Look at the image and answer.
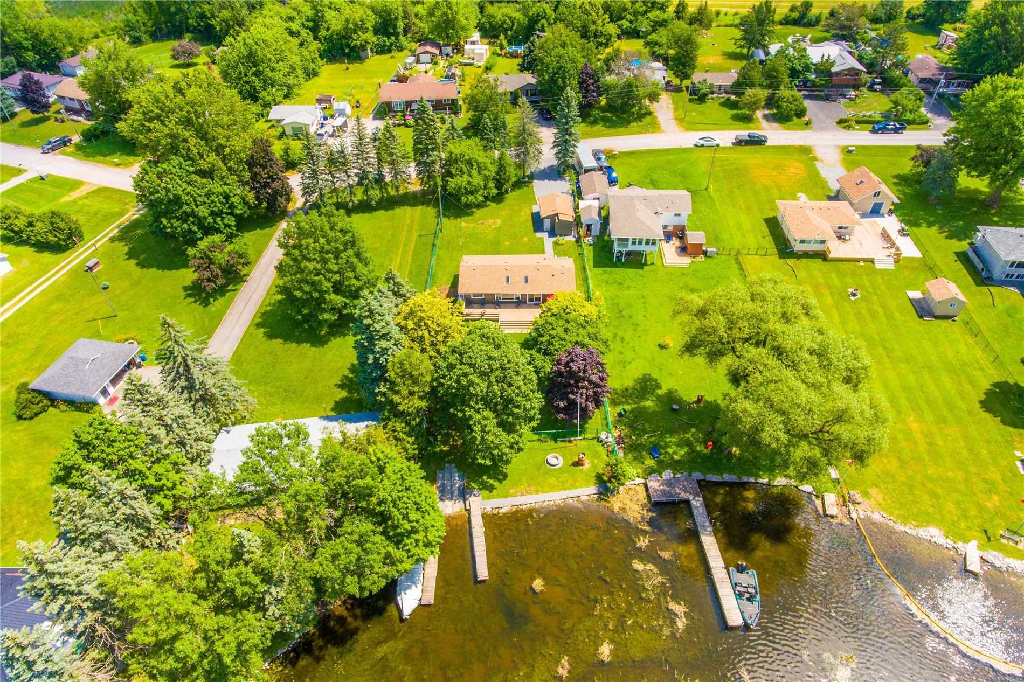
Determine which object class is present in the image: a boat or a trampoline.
boat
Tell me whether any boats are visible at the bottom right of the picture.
Yes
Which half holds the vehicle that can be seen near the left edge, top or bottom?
top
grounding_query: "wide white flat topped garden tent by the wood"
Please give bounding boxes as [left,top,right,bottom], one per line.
[463,43,488,60]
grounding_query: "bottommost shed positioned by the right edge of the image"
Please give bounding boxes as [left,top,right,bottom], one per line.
[926,274,973,317]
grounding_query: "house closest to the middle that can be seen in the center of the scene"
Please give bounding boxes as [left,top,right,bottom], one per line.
[457,255,575,310]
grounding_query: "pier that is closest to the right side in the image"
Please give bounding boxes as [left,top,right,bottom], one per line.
[960,540,986,580]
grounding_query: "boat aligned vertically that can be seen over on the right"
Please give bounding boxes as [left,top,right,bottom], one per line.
[731,560,763,629]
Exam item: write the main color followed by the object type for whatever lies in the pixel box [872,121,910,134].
blue vehicle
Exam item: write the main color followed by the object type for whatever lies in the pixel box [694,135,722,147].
white vehicle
